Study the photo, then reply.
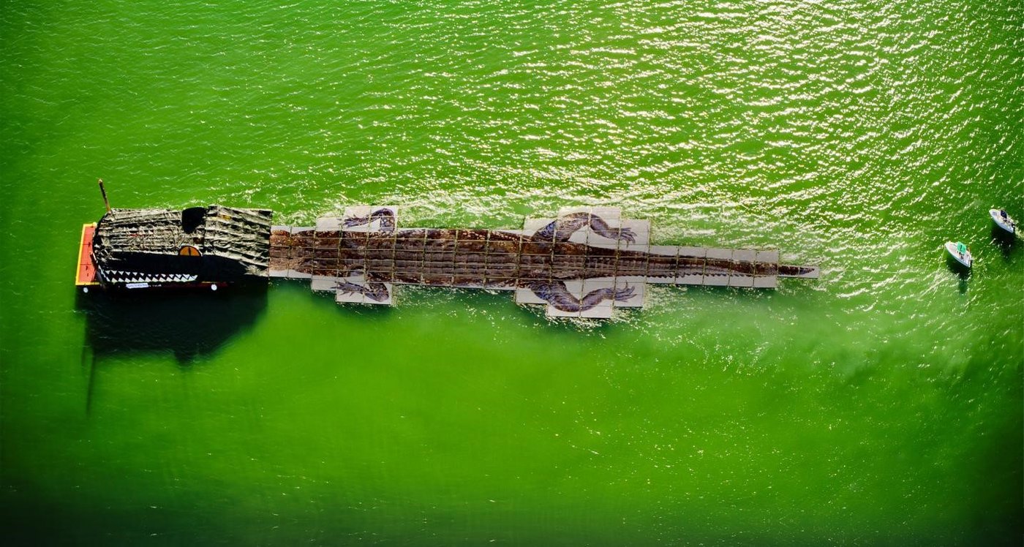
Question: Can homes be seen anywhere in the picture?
No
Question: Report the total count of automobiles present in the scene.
0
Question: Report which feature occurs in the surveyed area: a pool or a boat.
boat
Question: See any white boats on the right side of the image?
Yes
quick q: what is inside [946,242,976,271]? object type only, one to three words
boat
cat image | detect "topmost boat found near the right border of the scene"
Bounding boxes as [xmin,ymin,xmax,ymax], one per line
[990,209,1018,236]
